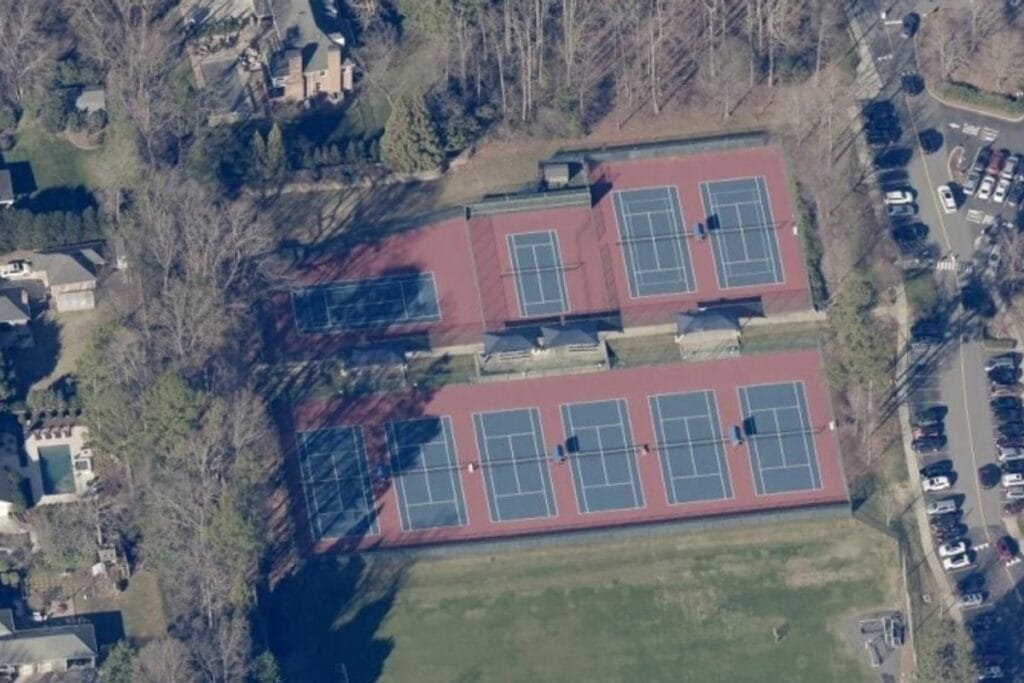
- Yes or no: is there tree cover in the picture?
Yes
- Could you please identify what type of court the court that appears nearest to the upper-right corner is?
tennis court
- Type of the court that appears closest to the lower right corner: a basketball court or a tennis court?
tennis court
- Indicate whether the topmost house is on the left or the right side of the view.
left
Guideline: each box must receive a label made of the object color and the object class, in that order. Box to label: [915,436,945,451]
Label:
blue car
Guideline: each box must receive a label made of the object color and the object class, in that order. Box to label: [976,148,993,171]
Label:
blue car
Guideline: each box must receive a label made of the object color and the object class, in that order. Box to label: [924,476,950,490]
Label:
white car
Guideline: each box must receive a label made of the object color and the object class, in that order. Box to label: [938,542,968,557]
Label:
white car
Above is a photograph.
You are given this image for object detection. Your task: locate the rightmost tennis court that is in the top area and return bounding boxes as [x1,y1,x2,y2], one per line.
[700,176,785,289]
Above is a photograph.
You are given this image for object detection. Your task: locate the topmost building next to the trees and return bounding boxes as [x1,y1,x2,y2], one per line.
[247,0,356,104]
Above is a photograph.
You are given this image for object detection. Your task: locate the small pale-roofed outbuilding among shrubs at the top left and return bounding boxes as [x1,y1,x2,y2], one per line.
[75,92,105,121]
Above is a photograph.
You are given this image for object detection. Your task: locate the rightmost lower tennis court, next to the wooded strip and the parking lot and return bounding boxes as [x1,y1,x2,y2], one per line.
[736,380,823,496]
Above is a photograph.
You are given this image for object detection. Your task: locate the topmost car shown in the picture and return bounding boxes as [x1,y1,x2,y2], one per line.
[904,15,918,39]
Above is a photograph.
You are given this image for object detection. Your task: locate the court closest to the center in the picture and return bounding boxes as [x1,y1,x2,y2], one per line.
[506,230,570,317]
